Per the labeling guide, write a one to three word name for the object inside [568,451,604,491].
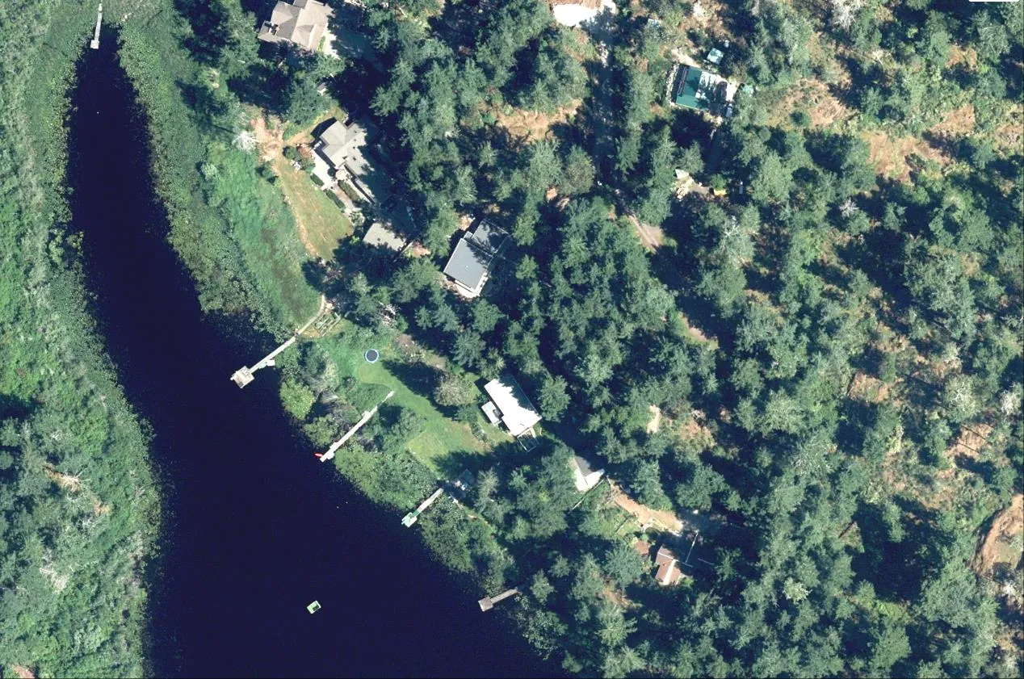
house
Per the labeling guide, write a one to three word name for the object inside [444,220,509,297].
house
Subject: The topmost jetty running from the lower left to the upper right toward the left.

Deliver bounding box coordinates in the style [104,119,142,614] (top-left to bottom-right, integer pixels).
[234,336,297,388]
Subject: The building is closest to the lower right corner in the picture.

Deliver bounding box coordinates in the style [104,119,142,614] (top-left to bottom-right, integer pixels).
[656,546,682,586]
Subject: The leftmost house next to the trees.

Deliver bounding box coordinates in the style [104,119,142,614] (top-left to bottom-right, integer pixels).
[258,0,333,52]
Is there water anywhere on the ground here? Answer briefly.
Yes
